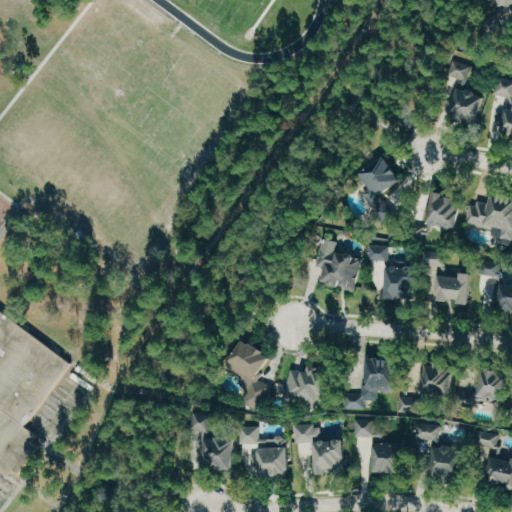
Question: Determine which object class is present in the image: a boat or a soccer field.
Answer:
soccer field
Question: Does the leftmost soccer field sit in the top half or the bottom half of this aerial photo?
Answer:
top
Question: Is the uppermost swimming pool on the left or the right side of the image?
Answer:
right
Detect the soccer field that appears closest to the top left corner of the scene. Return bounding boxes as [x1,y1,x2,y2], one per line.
[55,35,131,109]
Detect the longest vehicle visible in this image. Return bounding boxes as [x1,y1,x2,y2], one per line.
[69,374,93,392]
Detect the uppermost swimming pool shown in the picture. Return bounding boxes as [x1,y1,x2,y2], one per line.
[345,190,371,218]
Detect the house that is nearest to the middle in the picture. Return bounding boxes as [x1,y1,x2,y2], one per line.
[315,238,360,292]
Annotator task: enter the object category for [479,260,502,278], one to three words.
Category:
building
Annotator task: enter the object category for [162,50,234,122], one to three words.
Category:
soccer field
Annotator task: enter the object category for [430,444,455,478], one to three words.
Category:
house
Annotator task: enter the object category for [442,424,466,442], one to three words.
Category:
swimming pool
